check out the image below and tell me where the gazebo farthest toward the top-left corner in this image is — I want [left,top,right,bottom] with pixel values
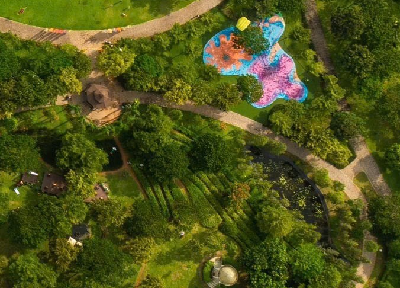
[85,84,110,110]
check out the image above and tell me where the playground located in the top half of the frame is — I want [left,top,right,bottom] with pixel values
[202,14,308,108]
